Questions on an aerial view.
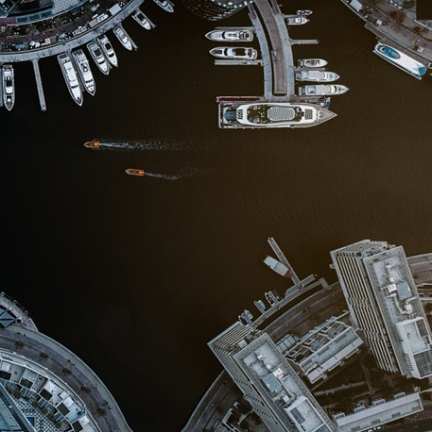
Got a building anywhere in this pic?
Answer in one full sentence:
Yes, there is a building in the image.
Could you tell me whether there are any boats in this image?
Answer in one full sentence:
Yes, the picture does show a boat.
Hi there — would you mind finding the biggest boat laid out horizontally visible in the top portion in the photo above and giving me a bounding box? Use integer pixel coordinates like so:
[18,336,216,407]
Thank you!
[218,102,338,127]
